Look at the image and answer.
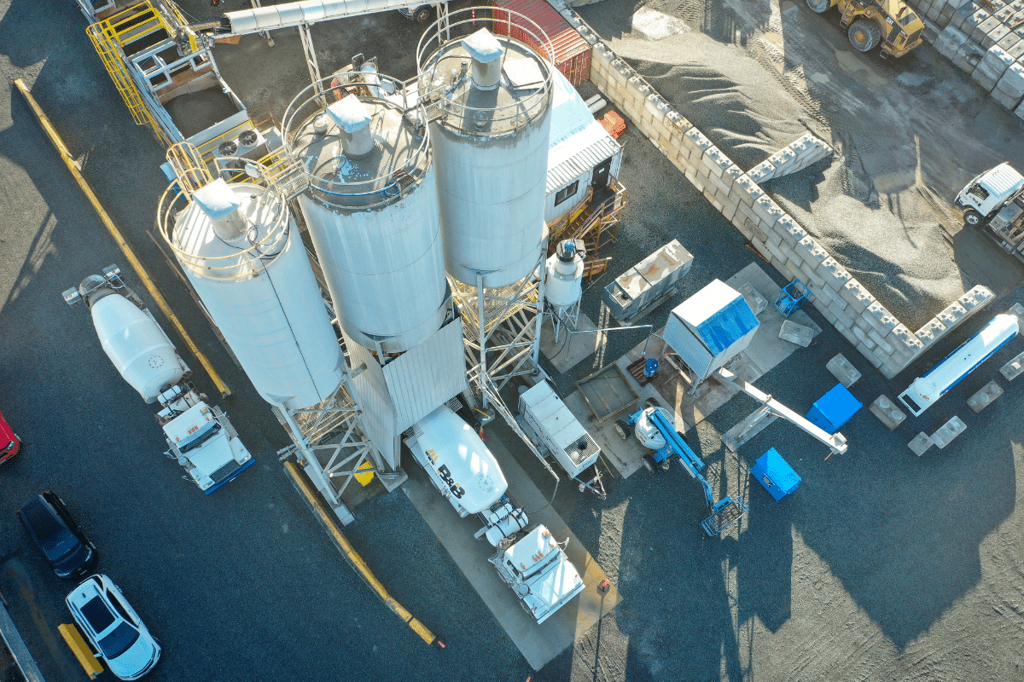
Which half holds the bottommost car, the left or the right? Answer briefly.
left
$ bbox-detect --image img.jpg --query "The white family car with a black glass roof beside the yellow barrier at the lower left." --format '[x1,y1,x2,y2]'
[68,566,161,682]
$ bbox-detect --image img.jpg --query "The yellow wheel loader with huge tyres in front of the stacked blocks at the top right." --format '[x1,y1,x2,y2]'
[808,0,937,70]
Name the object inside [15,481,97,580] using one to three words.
car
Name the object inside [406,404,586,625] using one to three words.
truck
